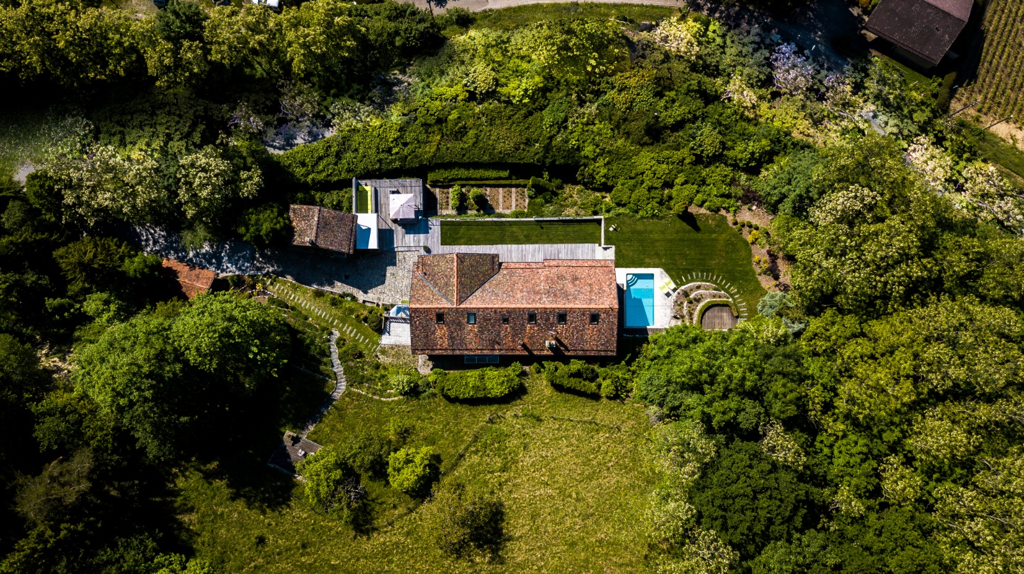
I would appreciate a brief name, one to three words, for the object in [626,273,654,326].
swimming pool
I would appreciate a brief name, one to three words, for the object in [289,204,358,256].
shed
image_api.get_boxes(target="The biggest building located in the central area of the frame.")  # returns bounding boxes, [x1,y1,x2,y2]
[409,252,619,364]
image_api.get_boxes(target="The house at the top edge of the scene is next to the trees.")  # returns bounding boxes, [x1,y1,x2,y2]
[852,0,986,78]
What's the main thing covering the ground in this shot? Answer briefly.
trees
